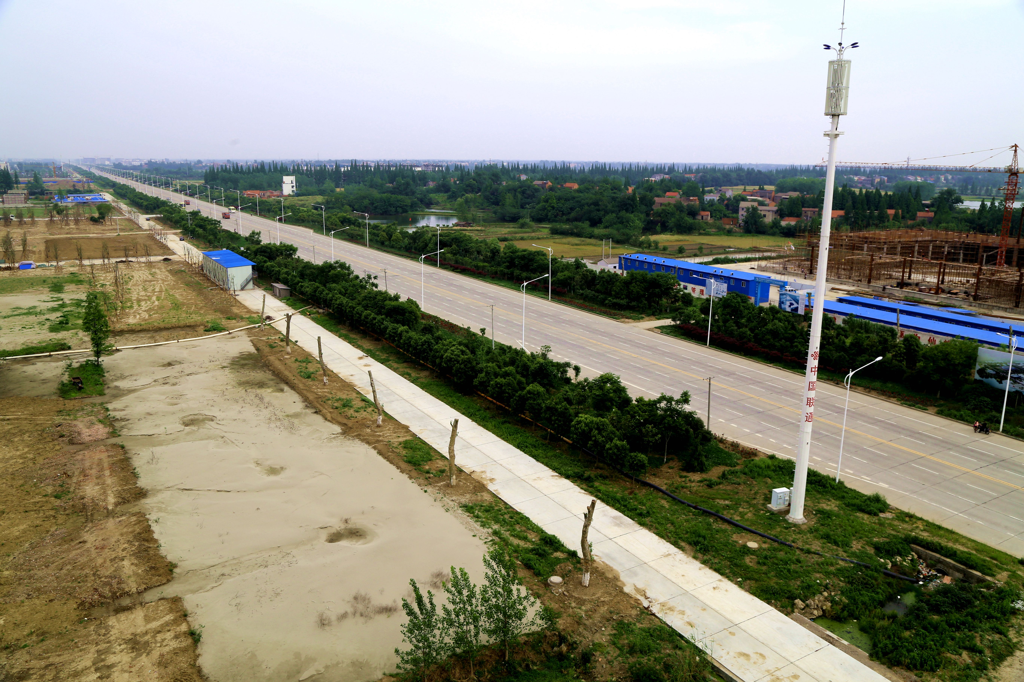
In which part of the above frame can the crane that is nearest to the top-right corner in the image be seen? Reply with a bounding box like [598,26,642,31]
[815,143,1024,262]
